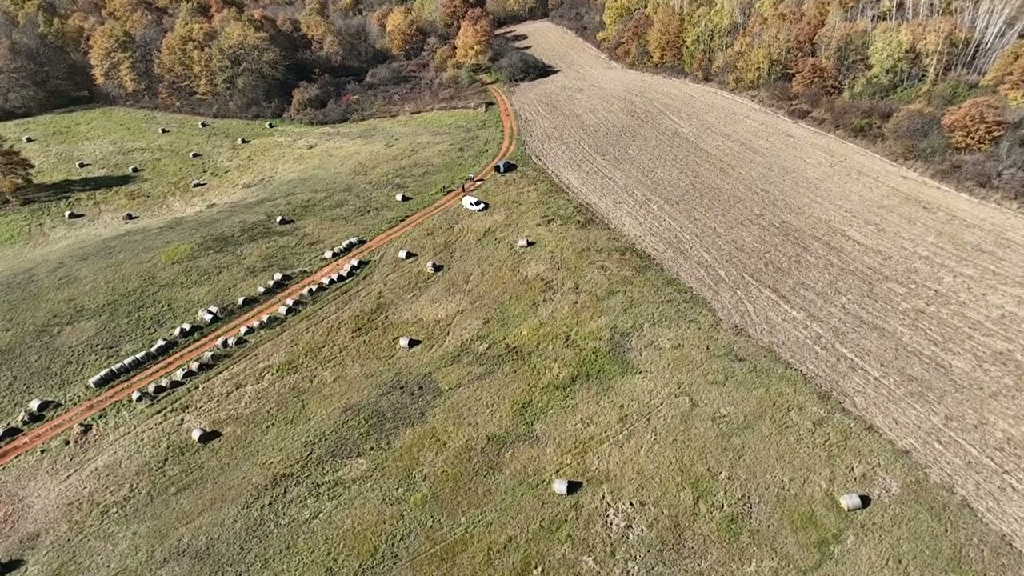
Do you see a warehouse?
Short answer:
No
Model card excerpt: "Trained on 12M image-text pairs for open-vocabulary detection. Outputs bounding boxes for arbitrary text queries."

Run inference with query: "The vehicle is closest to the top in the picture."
[497,159,511,175]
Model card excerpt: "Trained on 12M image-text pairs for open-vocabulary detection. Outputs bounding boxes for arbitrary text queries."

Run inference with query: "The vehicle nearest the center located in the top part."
[461,195,486,212]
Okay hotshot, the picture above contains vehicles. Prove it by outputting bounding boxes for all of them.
[497,159,511,175]
[461,195,486,212]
